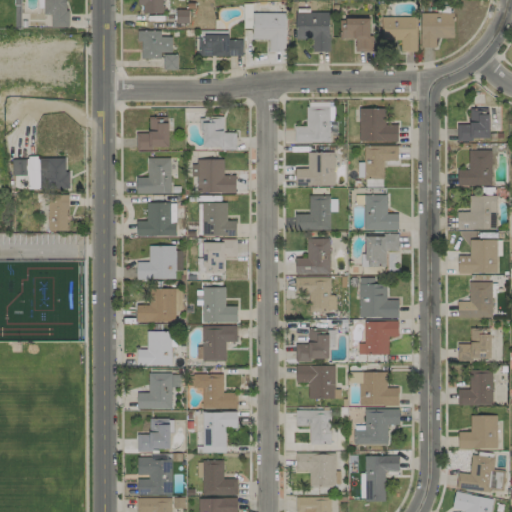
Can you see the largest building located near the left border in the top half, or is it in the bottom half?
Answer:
top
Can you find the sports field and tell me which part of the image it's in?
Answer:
bottom left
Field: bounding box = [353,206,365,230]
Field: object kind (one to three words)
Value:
swimming pool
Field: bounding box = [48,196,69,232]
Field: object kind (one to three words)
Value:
building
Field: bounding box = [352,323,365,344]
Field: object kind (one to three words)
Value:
swimming pool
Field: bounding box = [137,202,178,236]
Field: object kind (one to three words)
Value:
house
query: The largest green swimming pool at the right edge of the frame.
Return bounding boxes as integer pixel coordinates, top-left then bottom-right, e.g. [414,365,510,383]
[495,153,508,182]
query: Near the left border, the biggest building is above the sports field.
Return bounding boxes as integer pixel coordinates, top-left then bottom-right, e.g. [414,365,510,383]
[13,156,70,190]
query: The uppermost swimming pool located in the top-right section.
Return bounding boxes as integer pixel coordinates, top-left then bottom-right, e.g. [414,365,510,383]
[394,2,417,16]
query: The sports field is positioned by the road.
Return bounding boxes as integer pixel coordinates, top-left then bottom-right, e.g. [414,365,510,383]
[0,342,86,512]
